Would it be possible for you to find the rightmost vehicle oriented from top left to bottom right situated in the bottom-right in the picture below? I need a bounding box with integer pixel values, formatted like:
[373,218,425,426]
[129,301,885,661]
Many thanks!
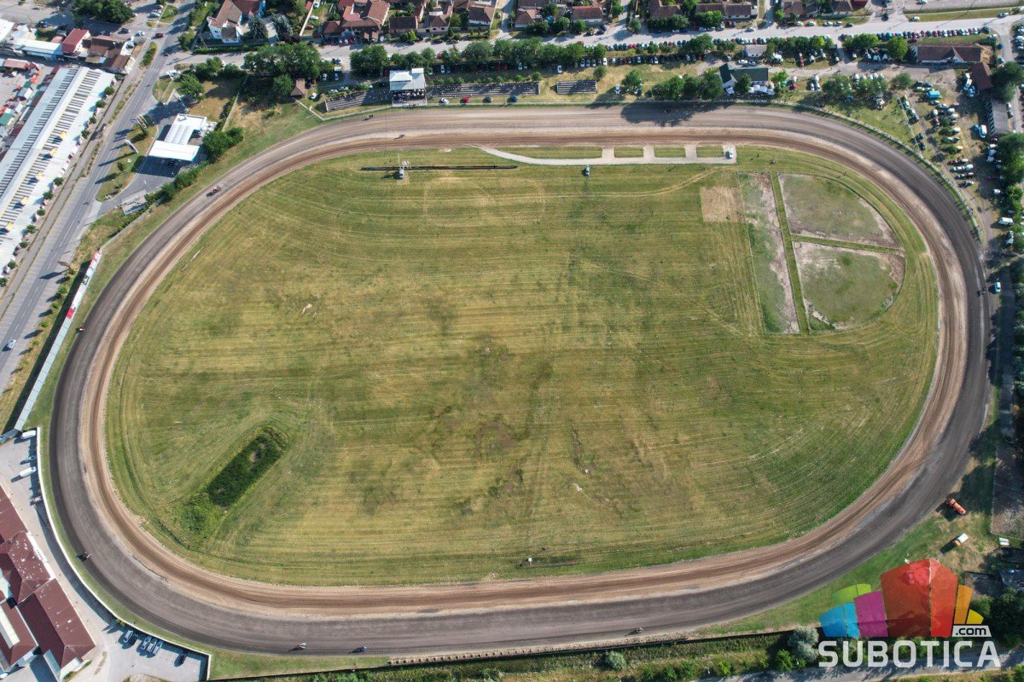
[943,495,970,517]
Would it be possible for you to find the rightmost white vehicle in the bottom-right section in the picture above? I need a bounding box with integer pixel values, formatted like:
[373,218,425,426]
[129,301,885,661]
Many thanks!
[951,532,971,548]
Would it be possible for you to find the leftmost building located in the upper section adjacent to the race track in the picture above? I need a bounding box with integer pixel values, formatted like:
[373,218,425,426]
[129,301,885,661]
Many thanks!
[0,67,118,292]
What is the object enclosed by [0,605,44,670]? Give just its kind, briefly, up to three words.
building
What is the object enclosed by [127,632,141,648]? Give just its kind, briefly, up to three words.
car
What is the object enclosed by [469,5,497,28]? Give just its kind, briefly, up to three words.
house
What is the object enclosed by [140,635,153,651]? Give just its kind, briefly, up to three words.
vehicle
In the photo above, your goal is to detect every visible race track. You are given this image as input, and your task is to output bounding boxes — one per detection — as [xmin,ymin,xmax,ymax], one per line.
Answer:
[49,105,990,658]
